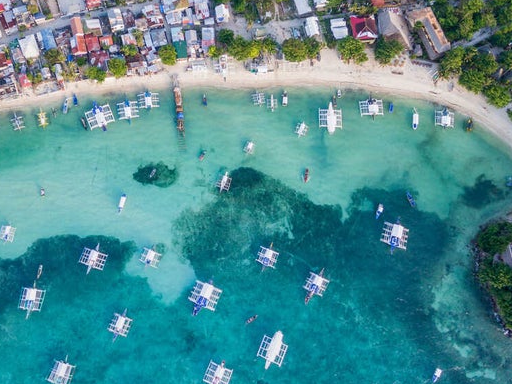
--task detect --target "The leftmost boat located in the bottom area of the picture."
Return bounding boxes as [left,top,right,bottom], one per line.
[0,223,16,242]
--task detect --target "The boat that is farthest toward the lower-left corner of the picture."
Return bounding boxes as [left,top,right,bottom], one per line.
[47,356,77,384]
